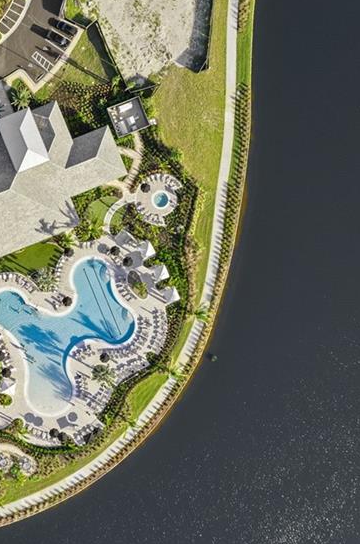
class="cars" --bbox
[56,21,77,37]
[47,31,69,48]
